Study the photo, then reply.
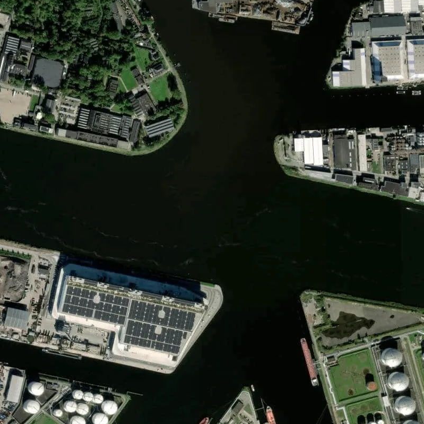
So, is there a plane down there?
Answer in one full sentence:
No, the scene contains no plane.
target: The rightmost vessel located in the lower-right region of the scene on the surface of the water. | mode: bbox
[301,338,318,387]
